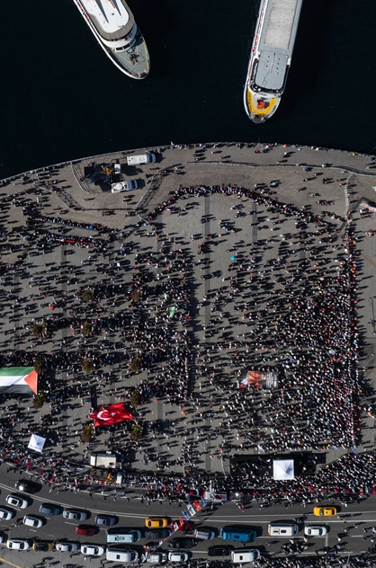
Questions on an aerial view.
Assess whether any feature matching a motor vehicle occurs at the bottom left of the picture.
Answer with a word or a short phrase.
Yes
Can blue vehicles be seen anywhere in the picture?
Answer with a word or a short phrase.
Yes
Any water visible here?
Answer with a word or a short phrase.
Yes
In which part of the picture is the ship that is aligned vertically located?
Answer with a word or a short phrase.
top right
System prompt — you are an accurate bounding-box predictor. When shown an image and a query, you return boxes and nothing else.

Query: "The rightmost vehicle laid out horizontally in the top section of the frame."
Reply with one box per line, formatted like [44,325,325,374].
[124,152,157,165]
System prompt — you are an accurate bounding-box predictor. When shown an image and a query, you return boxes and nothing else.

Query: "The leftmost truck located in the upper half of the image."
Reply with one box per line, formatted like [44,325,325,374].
[81,158,122,188]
